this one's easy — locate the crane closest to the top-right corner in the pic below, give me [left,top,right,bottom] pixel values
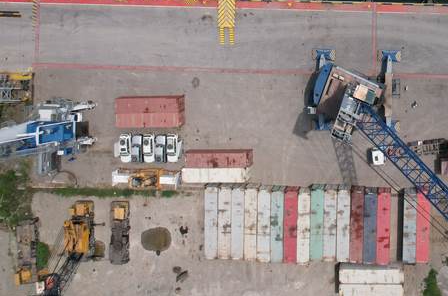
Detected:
[309,48,448,234]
